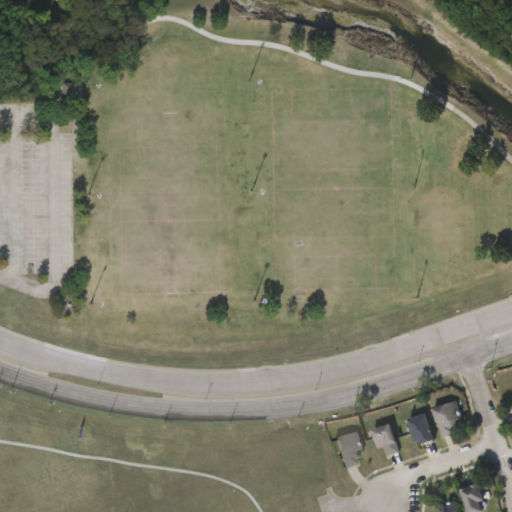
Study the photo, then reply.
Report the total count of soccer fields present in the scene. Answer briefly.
2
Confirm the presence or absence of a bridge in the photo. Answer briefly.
No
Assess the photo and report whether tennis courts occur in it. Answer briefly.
No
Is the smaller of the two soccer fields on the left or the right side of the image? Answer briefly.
left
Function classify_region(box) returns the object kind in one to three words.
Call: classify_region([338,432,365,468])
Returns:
house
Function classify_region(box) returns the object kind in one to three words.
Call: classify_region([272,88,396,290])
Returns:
soccer field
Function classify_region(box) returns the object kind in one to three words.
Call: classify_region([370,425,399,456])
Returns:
house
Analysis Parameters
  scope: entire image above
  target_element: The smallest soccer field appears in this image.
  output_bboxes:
[120,146,220,294]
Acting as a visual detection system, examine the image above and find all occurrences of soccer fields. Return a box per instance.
[272,88,396,290]
[120,146,220,294]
